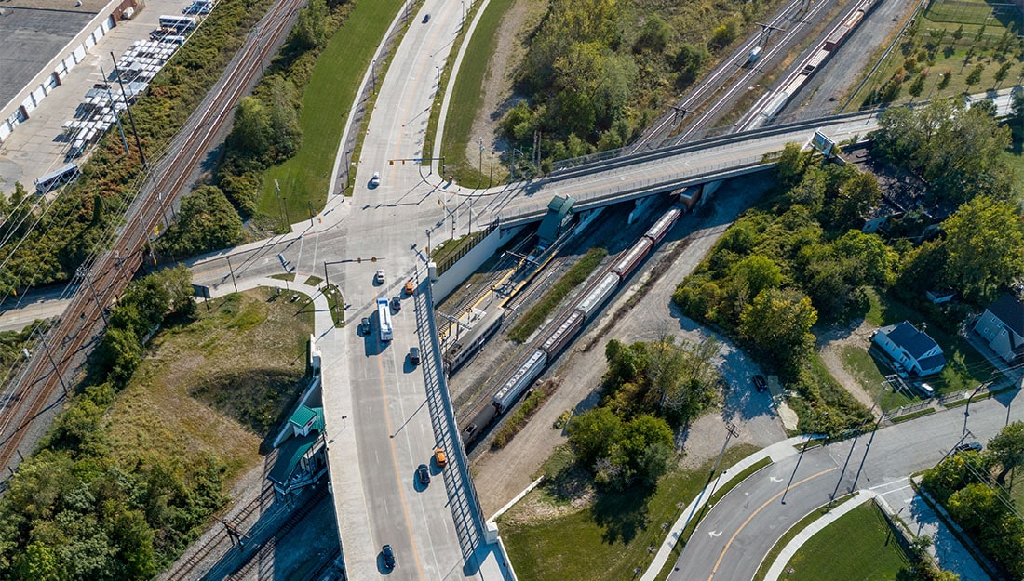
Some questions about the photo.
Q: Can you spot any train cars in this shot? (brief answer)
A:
Yes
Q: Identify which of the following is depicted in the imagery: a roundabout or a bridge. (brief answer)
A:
bridge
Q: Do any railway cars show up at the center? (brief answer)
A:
Yes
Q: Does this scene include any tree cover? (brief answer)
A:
Yes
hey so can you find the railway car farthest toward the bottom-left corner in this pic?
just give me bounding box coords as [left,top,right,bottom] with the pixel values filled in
[462,407,495,451]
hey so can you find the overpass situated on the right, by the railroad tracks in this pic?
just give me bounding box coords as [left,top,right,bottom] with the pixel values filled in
[471,109,858,228]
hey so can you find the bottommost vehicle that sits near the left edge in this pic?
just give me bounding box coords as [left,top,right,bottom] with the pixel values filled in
[29,161,80,191]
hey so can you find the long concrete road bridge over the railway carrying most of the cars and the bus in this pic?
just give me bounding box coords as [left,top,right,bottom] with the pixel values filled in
[310,269,510,581]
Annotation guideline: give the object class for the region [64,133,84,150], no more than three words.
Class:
vehicle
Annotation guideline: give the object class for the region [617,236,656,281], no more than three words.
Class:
rail car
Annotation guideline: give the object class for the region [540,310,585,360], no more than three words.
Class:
rail car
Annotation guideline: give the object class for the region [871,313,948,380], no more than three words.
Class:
house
